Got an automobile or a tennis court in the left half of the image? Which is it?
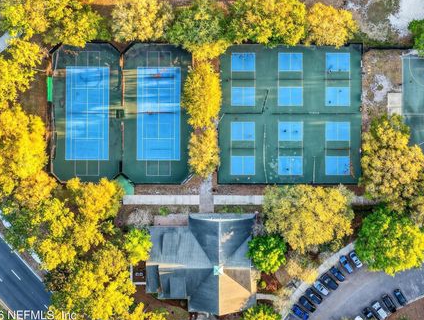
tennis court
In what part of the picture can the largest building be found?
bottom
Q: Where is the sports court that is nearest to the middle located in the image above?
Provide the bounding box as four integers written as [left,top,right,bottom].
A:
[231,122,255,176]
